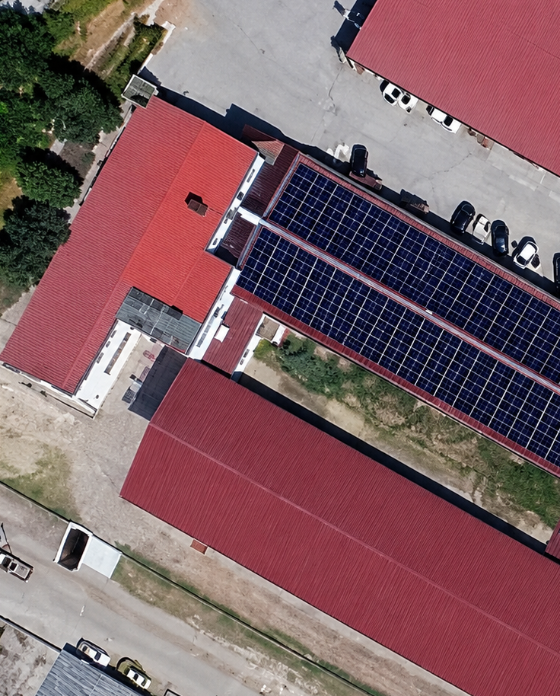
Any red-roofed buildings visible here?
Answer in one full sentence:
Yes, looking at the shot, I can spot a red-roofed building.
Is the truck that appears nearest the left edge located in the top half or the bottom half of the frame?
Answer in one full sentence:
You can find the truck that appears nearest the left edge in the bottom half.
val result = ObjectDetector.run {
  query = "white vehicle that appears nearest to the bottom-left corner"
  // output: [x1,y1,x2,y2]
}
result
[75,639,113,668]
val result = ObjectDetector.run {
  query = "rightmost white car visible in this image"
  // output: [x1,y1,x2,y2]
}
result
[514,236,538,271]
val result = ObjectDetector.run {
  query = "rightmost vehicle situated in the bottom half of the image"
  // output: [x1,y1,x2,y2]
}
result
[118,660,154,689]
